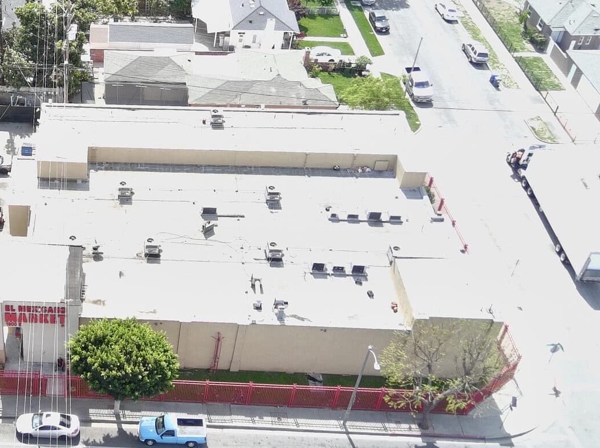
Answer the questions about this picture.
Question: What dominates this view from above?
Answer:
buildings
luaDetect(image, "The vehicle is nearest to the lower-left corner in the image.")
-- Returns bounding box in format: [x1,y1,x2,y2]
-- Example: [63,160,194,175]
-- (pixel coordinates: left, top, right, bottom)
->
[17,412,80,442]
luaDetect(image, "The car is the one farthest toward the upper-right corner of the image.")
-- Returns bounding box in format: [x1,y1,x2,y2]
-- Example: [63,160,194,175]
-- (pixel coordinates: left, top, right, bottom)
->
[459,41,493,66]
